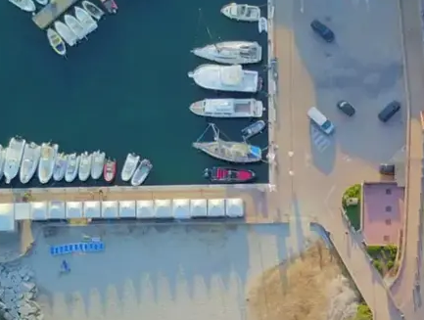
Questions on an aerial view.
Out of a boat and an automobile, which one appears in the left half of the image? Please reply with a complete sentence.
Looking in the left half of the image, you will find a boat.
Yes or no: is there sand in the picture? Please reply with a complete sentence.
Yes, there is sand in the image.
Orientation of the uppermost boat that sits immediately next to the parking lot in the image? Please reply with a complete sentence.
In this picture, the uppermost boat that sits immediately next to the parking lot is oriented horizontally.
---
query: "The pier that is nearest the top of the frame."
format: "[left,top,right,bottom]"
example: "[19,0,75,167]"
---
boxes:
[33,0,73,29]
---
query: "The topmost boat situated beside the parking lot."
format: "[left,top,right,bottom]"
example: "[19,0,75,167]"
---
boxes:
[220,1,269,24]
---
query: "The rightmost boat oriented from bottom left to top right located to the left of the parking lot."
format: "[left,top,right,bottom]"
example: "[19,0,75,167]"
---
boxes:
[234,121,265,140]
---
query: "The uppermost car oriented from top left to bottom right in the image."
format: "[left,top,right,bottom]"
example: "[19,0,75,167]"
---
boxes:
[307,16,337,44]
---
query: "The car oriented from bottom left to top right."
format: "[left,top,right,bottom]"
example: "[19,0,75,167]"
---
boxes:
[376,100,403,123]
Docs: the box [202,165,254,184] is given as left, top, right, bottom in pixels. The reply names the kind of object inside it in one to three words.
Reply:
boat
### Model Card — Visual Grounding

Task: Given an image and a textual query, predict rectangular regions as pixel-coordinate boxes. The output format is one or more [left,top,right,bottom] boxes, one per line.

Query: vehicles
[377,163,399,175]
[307,16,337,44]
[376,100,403,123]
[335,97,358,119]
[305,104,335,133]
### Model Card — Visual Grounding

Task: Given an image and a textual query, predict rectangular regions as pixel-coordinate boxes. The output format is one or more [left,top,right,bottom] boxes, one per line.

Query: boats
[2,133,27,187]
[121,149,141,186]
[64,148,82,189]
[202,165,254,184]
[234,121,265,140]
[64,13,89,42]
[84,0,107,23]
[220,1,269,24]
[104,153,118,188]
[0,143,7,182]
[192,136,268,165]
[21,140,41,185]
[10,0,36,11]
[190,96,270,120]
[133,155,154,186]
[90,146,107,180]
[191,24,263,63]
[73,4,101,34]
[77,147,93,188]
[54,22,81,50]
[47,28,70,59]
[38,139,59,187]
[187,61,264,95]
[53,149,69,186]
[100,0,119,16]
[257,15,267,36]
